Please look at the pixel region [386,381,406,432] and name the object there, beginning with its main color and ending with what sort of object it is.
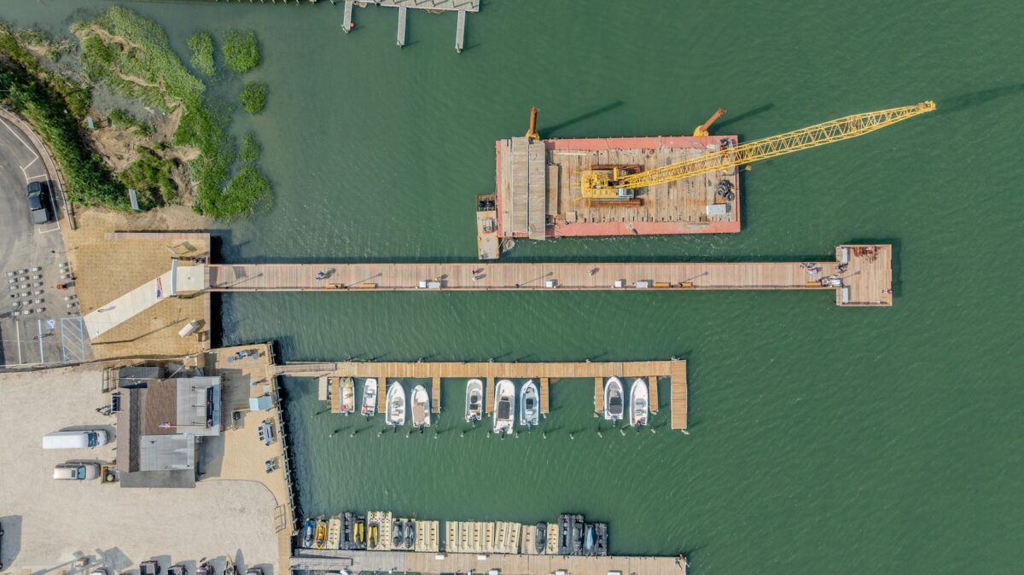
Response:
white boat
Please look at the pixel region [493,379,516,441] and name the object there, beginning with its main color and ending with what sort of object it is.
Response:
white boat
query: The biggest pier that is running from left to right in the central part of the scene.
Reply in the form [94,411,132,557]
[206,245,892,306]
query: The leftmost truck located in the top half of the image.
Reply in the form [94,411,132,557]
[25,177,54,229]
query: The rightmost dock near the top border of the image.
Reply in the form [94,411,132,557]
[343,0,479,50]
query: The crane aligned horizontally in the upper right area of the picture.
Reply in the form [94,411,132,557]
[576,100,935,210]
